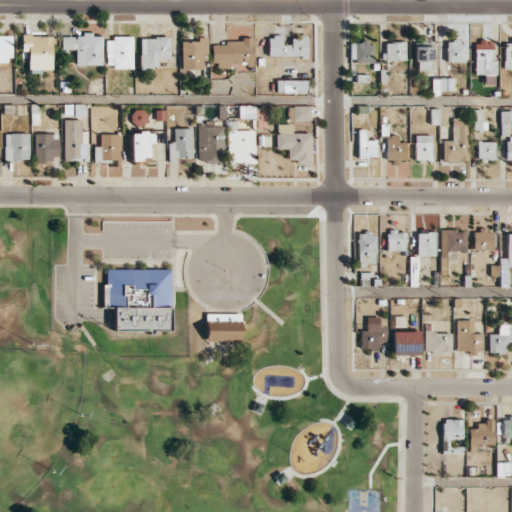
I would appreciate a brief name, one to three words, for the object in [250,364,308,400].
playground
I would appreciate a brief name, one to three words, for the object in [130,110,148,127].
gazebo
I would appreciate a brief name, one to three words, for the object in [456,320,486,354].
house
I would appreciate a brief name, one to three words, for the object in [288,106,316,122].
building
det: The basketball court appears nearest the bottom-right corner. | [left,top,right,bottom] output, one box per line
[348,490,380,512]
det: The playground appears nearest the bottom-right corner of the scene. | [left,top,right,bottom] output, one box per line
[290,422,341,477]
